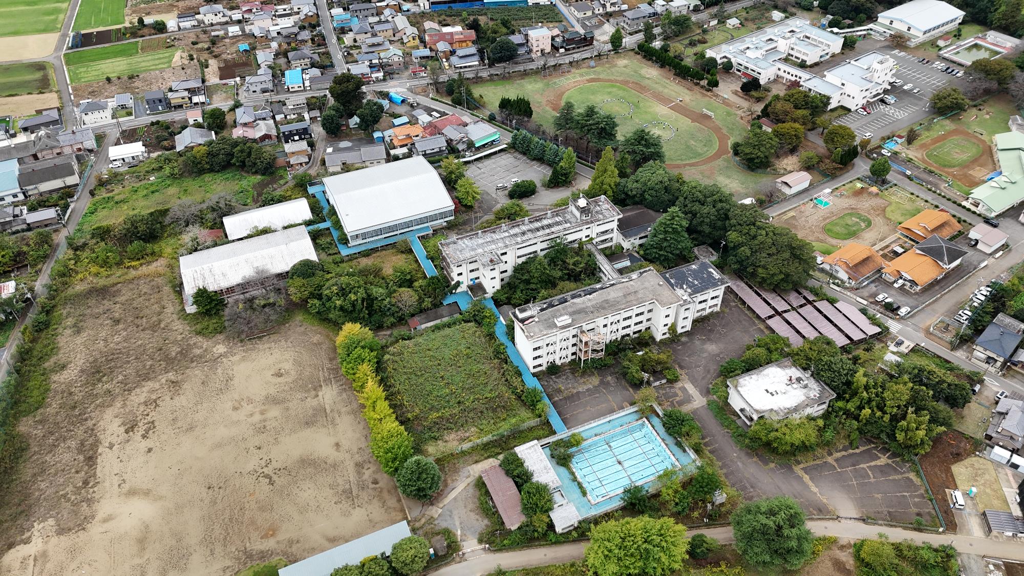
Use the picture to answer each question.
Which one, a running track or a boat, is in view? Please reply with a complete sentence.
The one in the frame is a running track.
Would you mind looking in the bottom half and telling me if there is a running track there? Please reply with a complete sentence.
No, I can find no running track in the bottom half.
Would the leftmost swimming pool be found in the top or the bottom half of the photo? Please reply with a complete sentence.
Seen from above, the leftmost swimming pool lies in the bottom half of the view.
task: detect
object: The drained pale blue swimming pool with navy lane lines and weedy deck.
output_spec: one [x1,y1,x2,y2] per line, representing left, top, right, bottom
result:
[539,403,694,536]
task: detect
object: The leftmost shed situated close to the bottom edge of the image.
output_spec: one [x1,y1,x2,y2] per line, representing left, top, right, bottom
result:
[279,521,413,576]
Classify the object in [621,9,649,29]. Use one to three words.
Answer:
house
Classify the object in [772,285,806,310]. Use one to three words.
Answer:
shed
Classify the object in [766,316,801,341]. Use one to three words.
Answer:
shed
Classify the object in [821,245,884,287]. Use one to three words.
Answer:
building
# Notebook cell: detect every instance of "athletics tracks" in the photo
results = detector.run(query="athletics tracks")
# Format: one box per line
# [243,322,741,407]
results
[545,77,738,169]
